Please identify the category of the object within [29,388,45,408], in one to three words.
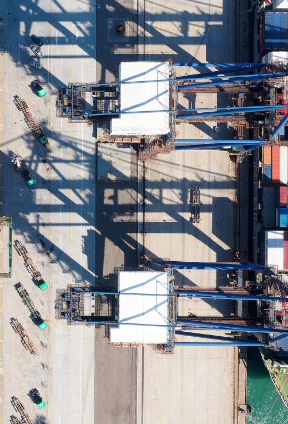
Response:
work vehicle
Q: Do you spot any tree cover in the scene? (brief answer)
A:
No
